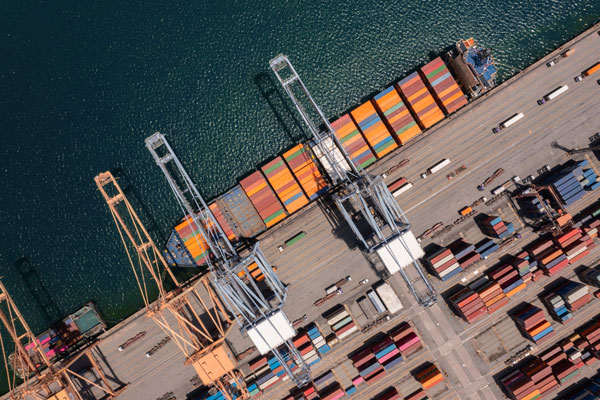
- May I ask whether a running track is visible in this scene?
No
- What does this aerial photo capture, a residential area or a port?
port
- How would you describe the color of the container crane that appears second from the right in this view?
white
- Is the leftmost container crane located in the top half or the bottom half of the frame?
bottom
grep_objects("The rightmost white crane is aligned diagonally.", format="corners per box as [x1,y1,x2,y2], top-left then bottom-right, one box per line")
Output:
[268,52,440,307]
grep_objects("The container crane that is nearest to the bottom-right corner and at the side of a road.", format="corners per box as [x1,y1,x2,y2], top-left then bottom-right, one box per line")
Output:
[513,176,578,236]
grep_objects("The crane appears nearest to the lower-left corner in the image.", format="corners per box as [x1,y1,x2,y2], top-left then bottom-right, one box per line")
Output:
[0,281,135,400]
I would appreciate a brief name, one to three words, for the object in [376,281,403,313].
shed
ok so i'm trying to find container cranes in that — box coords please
[268,52,440,307]
[141,131,313,387]
[513,176,578,236]
[0,281,135,400]
[90,169,256,400]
